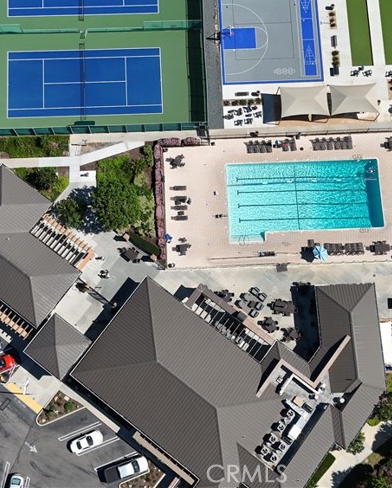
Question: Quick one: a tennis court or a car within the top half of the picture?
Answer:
tennis court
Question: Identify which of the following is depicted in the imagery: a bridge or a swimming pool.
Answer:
swimming pool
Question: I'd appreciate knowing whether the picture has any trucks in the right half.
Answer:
No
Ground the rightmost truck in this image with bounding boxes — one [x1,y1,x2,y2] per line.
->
[103,456,148,483]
